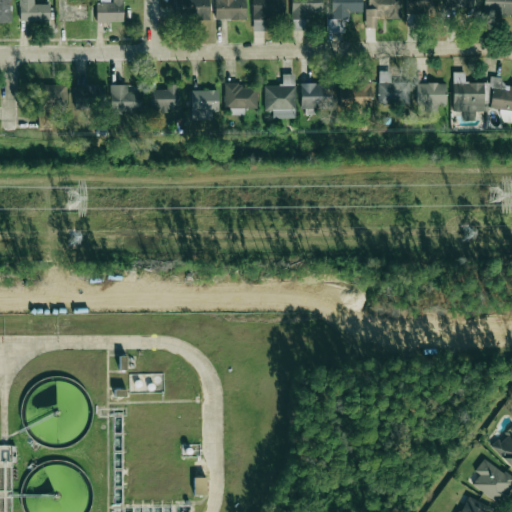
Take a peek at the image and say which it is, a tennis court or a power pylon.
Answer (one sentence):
The one in the frame is a power pylon.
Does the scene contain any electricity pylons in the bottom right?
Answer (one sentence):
No, the scene shows no electricity pylon in the bottom right.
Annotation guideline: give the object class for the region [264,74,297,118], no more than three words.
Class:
house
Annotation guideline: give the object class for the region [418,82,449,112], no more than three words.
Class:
house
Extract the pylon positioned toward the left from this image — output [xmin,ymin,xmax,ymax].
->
[64,178,84,217]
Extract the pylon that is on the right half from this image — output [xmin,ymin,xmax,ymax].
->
[485,176,512,214]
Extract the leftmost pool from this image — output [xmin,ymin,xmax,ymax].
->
[453,112,484,129]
